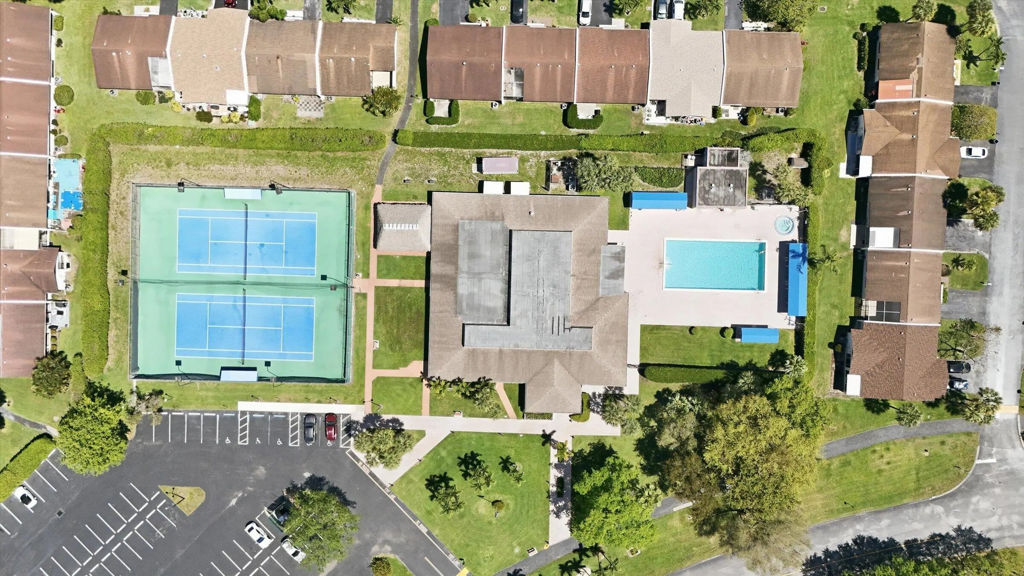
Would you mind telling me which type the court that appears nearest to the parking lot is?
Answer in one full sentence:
Specifically, the court that appears nearest to the parking lot is a tennis court.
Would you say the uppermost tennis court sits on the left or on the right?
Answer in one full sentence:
It is on the left.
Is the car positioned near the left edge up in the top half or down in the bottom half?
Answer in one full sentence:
The car positioned near the left edge sits in the bottom half of the picture.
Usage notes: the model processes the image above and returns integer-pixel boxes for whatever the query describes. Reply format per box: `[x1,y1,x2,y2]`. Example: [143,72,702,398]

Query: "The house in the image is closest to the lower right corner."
[839,323,957,400]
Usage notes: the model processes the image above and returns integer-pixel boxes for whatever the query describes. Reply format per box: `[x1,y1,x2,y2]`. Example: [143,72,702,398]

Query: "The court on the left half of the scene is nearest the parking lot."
[139,282,353,380]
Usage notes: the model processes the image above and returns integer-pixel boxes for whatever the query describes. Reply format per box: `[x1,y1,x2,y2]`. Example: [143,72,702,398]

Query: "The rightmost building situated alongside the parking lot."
[428,192,628,413]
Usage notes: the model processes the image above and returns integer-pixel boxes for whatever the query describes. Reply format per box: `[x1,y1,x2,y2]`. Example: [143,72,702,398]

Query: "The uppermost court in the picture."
[141,186,353,287]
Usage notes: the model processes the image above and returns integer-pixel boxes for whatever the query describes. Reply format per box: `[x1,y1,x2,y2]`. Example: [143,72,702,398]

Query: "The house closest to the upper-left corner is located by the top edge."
[0,2,65,90]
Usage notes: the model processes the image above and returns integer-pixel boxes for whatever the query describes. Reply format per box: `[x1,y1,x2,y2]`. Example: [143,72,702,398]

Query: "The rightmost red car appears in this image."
[323,412,338,442]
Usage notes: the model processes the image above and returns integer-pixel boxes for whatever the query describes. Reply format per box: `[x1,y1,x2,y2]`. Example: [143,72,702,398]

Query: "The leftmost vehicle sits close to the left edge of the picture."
[14,484,40,510]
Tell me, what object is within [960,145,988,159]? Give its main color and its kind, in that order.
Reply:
white car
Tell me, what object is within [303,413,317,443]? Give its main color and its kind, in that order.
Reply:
gray car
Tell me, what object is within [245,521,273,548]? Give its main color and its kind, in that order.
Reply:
white car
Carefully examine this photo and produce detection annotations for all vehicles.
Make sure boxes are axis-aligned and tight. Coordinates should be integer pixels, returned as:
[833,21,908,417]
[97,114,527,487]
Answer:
[579,0,593,27]
[960,145,988,159]
[323,412,338,442]
[947,377,969,390]
[282,537,308,562]
[672,0,686,20]
[303,413,317,443]
[225,0,238,9]
[655,0,669,20]
[245,521,273,548]
[14,484,40,510]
